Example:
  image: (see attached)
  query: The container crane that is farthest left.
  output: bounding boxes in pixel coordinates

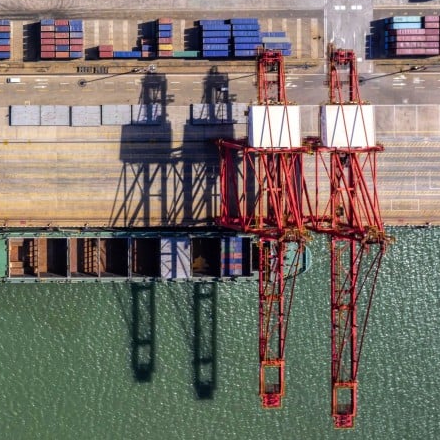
[202,47,313,409]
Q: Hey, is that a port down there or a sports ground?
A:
port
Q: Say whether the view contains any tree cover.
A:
No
